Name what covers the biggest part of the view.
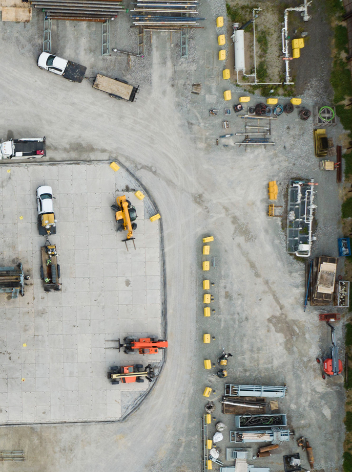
paved ground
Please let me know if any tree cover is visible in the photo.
No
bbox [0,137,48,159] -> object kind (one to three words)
truck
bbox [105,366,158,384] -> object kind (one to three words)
work vehicle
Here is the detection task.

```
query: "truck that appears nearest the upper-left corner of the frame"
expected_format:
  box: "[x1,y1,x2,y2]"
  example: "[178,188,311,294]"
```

[35,53,86,85]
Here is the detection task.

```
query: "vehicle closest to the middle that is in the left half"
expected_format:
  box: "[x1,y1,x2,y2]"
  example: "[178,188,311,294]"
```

[110,195,136,250]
